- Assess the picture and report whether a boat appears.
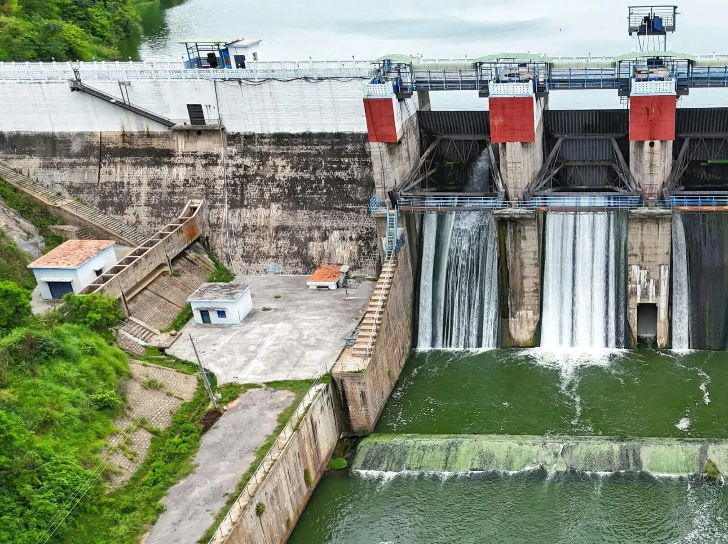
No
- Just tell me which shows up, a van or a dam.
dam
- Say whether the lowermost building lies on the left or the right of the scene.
left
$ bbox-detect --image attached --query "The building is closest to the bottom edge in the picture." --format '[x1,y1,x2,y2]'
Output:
[185,284,253,325]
